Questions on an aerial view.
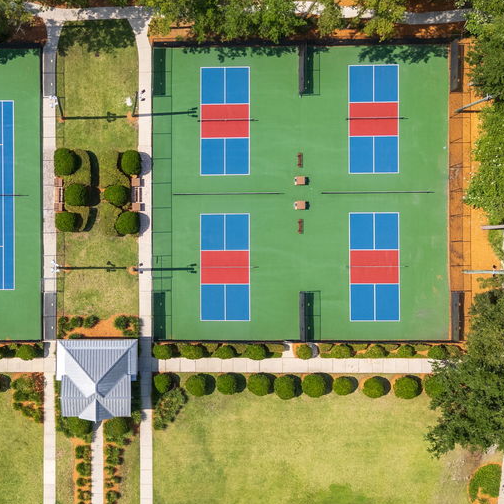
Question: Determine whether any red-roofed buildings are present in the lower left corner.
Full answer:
No, in the lower left corner there is no red-roofed building.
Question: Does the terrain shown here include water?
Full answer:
No, the picture contains no water.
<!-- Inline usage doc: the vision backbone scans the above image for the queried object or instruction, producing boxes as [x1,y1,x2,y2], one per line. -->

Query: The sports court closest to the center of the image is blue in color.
[201,214,250,321]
